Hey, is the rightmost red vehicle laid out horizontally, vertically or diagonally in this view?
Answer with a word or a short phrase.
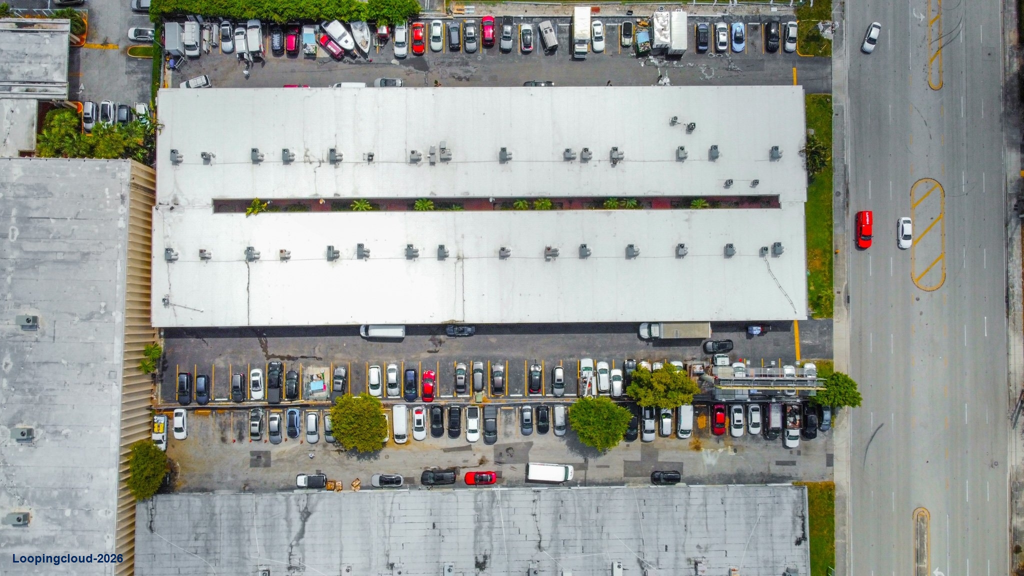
vertically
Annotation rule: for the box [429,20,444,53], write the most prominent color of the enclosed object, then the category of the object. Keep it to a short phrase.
white car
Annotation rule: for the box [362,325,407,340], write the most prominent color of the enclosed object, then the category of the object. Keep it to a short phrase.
white vehicle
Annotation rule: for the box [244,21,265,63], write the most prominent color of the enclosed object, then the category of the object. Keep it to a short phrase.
white truck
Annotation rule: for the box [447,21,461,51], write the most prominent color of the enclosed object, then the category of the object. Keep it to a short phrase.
gray car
